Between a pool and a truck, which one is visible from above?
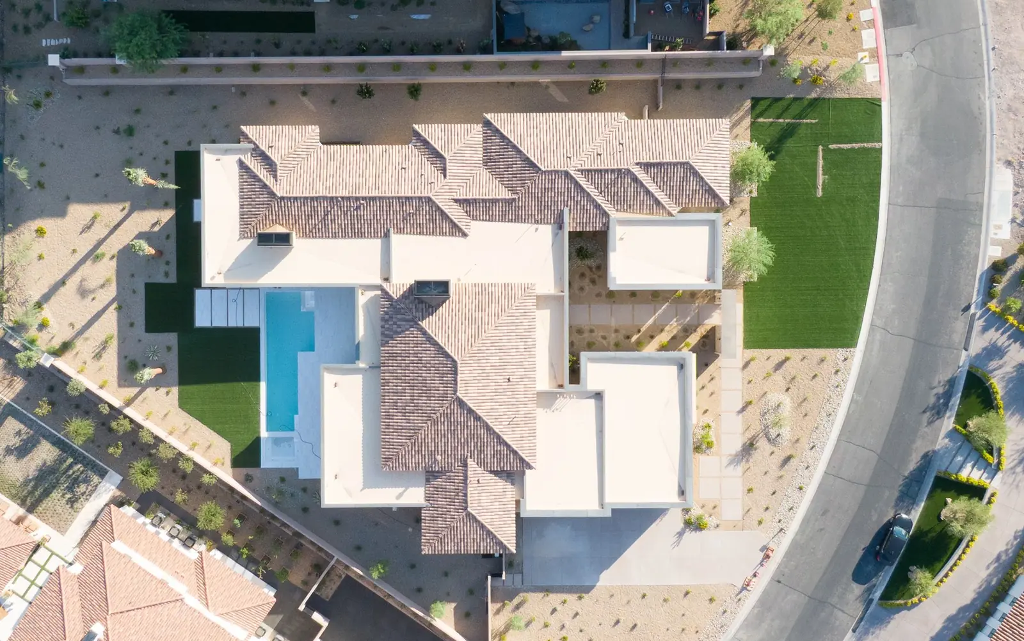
pool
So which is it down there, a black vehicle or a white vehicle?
black vehicle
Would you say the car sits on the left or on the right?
right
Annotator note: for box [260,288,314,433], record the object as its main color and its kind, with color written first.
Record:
blue swimming pool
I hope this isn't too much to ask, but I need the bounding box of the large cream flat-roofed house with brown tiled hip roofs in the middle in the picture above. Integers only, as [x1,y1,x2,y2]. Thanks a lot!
[201,112,731,557]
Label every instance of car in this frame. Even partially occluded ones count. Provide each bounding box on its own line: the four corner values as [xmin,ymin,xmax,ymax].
[875,513,911,568]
